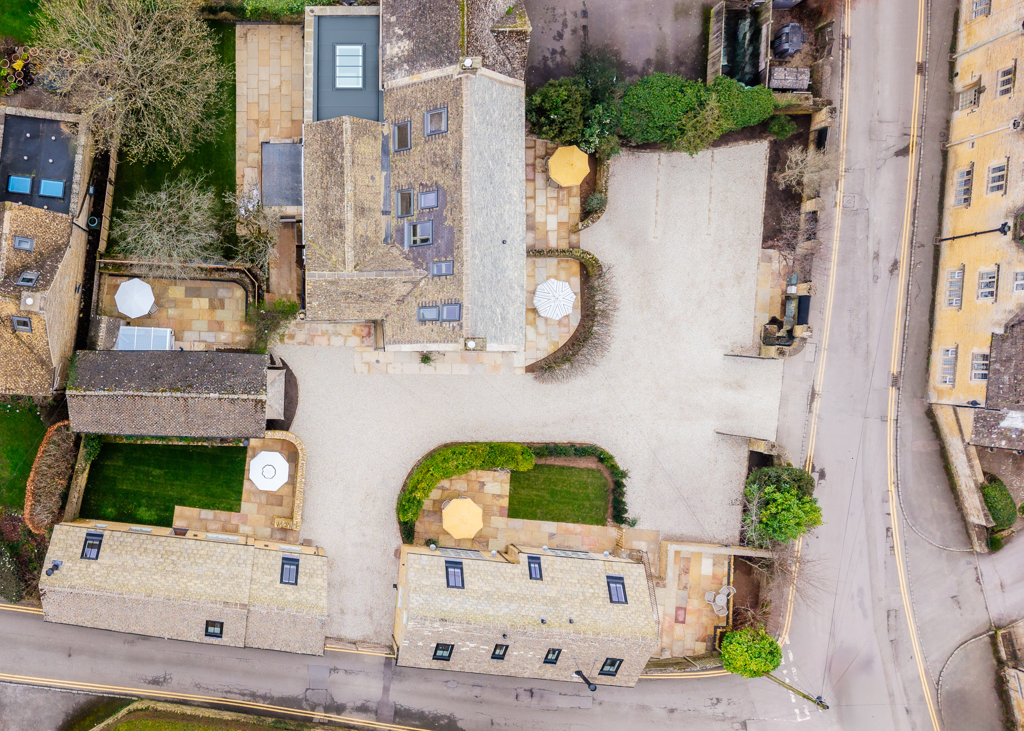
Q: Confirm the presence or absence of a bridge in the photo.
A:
No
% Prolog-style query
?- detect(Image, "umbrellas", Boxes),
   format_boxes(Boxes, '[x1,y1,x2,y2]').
[250,452,288,489]
[533,279,575,320]
[115,278,155,318]
[443,499,481,537]
[547,148,587,187]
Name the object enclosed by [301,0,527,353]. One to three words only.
house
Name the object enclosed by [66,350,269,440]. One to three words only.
barn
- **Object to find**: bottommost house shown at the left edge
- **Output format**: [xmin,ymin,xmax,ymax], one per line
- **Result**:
[39,519,328,658]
